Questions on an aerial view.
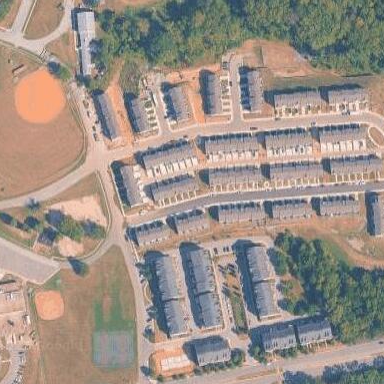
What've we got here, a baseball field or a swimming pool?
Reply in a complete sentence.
The image shows a baseball field.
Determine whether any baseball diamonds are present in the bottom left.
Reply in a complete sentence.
Yes, looking in the bottom left, one can make out a baseball diamond.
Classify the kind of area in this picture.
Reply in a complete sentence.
The area seen from above is a residential area.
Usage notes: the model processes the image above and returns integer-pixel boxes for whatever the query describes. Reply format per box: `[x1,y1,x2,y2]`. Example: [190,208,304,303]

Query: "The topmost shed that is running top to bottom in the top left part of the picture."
[77,11,95,75]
